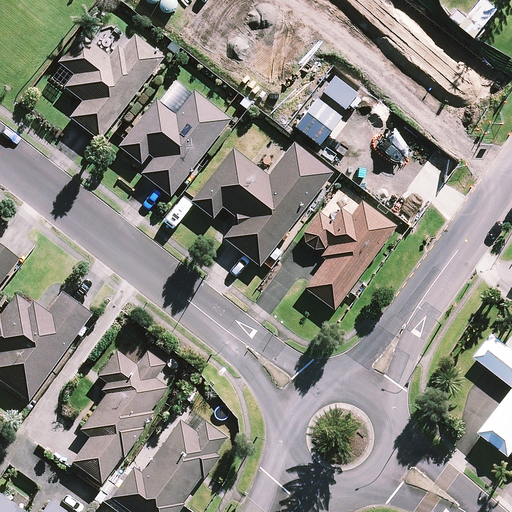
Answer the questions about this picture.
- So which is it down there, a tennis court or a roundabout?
roundabout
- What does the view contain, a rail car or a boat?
boat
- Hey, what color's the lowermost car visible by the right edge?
black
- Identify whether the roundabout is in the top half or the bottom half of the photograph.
bottom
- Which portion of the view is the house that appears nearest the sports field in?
top left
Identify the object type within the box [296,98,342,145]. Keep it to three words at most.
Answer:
shed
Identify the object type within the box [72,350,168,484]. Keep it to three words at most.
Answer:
house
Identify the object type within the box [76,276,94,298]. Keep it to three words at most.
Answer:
car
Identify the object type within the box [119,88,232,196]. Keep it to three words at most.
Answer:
house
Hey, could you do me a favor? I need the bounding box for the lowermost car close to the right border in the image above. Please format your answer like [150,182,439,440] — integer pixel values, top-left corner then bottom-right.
[484,222,504,246]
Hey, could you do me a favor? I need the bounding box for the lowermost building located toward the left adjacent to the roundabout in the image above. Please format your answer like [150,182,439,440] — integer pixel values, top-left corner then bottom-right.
[104,420,228,512]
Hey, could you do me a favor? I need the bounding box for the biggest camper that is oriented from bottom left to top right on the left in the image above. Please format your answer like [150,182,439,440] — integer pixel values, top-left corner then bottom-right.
[167,196,194,226]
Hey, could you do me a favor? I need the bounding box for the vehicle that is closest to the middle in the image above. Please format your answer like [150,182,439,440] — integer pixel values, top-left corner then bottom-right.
[228,255,248,278]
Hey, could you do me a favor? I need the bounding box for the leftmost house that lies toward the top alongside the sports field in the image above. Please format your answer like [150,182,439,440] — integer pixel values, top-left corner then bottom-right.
[60,34,166,139]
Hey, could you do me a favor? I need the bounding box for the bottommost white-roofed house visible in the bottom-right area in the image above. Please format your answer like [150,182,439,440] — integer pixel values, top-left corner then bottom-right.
[478,386,512,456]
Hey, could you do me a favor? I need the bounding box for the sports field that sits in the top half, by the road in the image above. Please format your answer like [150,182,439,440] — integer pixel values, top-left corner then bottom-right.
[0,0,98,111]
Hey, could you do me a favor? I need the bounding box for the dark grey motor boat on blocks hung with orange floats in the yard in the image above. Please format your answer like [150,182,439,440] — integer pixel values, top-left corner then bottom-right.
[375,134,408,160]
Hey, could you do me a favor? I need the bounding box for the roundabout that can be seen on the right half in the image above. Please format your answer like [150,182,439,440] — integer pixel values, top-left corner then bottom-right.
[272,368,408,504]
